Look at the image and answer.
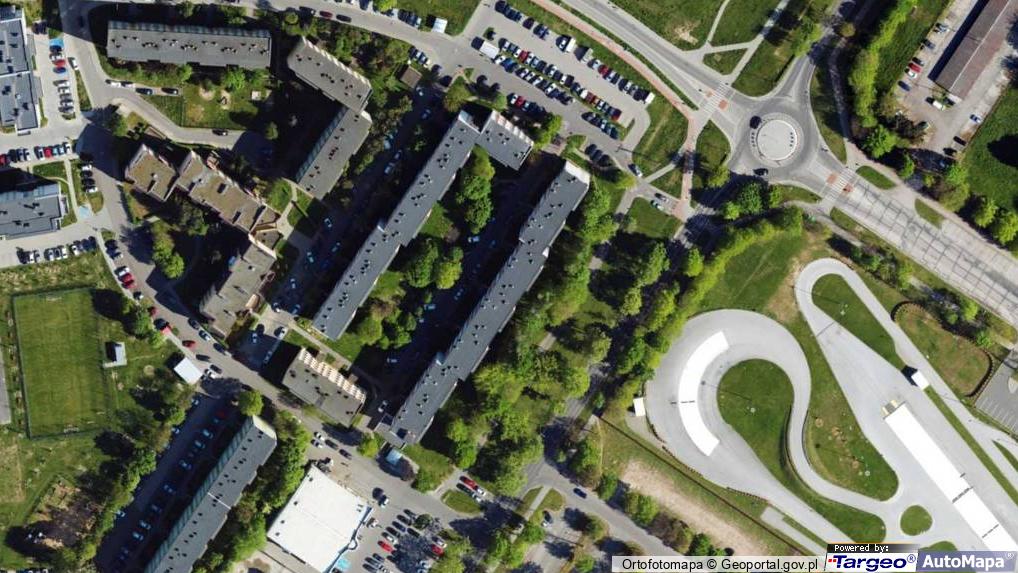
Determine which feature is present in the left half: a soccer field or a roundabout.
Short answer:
soccer field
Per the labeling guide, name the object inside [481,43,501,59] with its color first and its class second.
white vehicle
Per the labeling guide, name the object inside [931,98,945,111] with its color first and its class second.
white vehicle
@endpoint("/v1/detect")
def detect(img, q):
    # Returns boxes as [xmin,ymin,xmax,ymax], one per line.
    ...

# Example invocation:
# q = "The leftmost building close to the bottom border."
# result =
[143,417,276,573]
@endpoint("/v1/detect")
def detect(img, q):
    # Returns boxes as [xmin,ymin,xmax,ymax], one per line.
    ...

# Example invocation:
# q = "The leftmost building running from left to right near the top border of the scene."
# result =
[106,20,270,70]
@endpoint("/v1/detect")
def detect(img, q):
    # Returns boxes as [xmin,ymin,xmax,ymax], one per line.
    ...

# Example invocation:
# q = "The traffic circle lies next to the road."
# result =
[734,97,819,182]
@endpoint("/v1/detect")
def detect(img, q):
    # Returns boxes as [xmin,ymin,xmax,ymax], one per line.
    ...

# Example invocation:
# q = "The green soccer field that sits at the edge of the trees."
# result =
[15,290,113,437]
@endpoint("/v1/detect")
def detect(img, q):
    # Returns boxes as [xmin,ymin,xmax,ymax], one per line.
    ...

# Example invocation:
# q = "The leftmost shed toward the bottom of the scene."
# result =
[103,340,127,367]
